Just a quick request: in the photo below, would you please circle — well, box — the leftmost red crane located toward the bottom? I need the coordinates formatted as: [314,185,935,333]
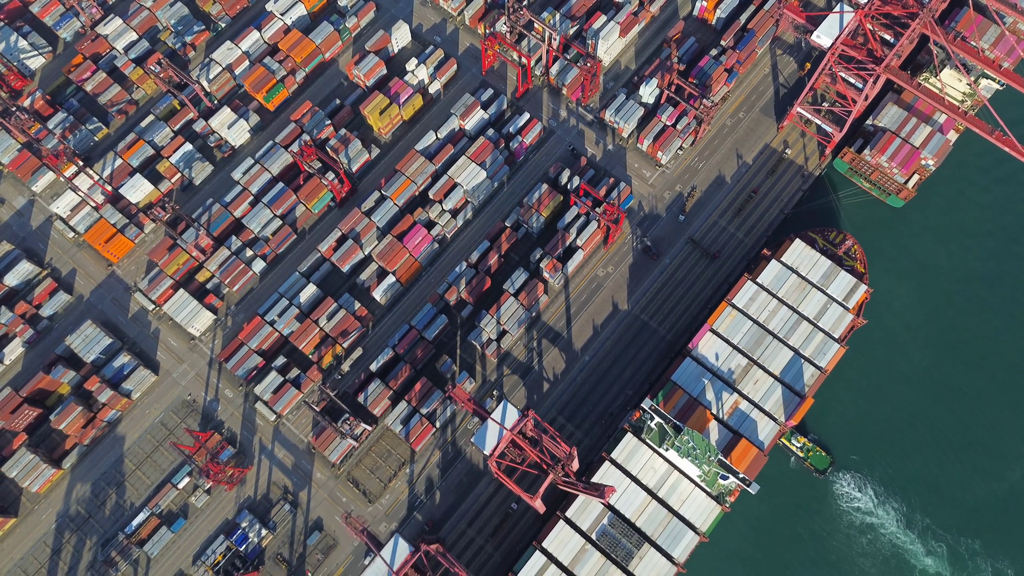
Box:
[166,425,251,496]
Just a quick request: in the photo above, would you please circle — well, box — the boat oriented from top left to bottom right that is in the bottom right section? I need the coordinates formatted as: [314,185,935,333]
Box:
[776,427,835,479]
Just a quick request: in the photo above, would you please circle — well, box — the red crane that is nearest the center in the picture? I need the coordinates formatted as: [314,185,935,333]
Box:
[564,180,630,251]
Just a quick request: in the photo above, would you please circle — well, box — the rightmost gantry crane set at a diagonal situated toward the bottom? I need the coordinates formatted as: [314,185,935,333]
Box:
[438,370,624,523]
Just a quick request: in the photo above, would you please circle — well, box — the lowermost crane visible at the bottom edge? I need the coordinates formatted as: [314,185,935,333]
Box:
[326,497,489,576]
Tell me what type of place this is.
port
